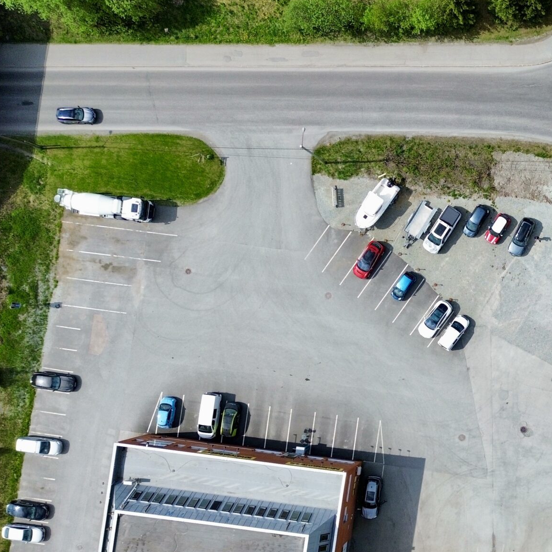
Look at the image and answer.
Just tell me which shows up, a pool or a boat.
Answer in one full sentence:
The image shows a boat.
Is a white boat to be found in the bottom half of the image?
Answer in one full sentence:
No, no white boat is visible in the bottom half of the image.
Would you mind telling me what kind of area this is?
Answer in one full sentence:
It's a parking lot.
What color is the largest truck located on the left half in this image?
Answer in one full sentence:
The largest truck located on the left half looks white in the image.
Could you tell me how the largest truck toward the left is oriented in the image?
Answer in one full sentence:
Seen from above, the largest truck toward the left lies from side to side.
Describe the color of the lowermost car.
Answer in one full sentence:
From above, the lowermost car appears white.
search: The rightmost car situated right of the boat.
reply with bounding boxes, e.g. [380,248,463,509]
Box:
[507,215,537,261]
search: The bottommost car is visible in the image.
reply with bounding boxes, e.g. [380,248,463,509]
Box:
[1,522,48,545]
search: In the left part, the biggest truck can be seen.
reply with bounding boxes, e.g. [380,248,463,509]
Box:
[51,187,155,225]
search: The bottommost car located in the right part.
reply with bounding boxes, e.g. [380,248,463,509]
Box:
[359,477,382,520]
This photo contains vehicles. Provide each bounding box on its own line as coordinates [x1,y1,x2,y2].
[507,215,537,261]
[30,369,79,394]
[1,522,48,545]
[483,211,512,247]
[5,498,51,522]
[418,296,454,341]
[462,201,491,242]
[389,269,418,303]
[51,187,155,225]
[156,395,178,431]
[194,391,222,438]
[352,237,387,283]
[424,203,462,255]
[219,400,244,439]
[359,477,382,520]
[55,105,99,126]
[11,435,63,458]
[437,313,471,355]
